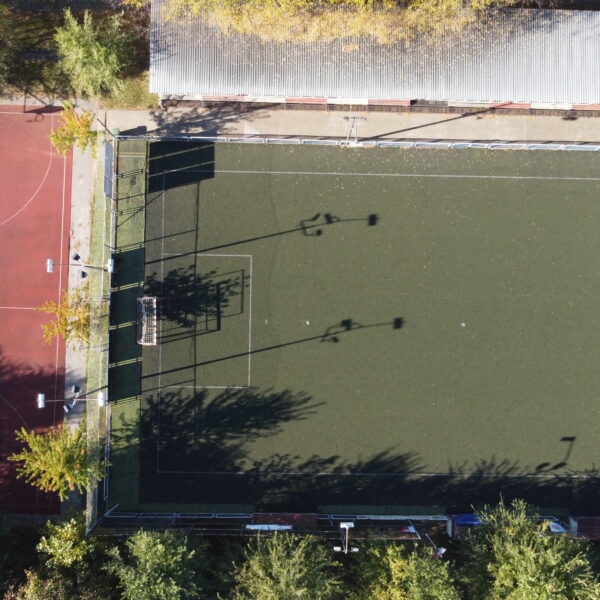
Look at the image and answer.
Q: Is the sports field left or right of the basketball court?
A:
right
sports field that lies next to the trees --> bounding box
[103,141,600,521]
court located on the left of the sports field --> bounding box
[0,105,74,513]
